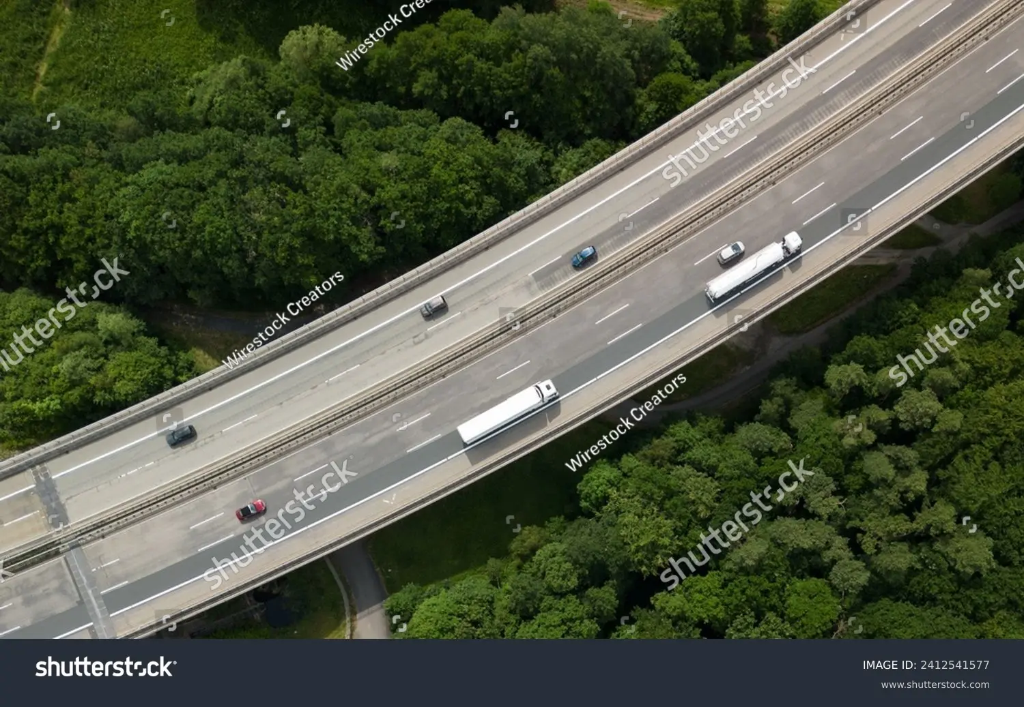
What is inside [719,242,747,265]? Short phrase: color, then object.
white car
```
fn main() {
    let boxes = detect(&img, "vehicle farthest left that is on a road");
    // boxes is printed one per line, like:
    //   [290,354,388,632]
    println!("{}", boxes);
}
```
[166,425,198,447]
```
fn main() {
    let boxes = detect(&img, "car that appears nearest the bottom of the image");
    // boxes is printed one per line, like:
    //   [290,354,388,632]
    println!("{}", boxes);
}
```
[238,500,266,520]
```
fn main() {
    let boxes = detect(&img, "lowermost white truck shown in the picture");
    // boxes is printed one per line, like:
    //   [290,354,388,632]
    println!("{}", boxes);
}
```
[457,377,560,445]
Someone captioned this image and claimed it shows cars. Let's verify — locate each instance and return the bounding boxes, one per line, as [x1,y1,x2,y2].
[419,296,450,320]
[166,425,198,447]
[719,242,747,265]
[570,246,598,268]
[238,500,266,520]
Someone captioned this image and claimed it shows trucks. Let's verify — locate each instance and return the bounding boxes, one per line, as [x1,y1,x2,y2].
[705,230,803,303]
[457,377,560,445]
